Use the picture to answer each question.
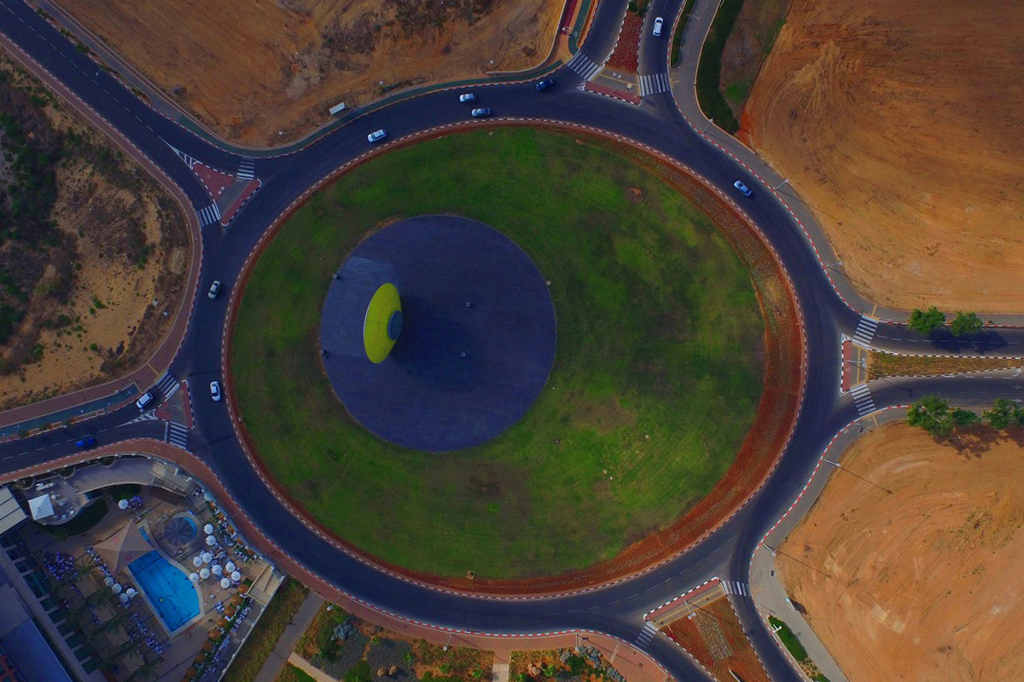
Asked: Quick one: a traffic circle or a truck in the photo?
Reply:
traffic circle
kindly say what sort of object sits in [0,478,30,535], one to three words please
building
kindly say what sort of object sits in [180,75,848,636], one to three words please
roundabout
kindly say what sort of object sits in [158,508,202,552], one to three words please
swimming pool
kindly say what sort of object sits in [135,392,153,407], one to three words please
car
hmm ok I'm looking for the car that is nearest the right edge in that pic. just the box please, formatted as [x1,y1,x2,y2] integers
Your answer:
[735,180,752,196]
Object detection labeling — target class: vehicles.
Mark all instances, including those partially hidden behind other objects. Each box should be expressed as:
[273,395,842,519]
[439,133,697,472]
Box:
[458,92,477,101]
[536,78,554,90]
[75,438,93,448]
[367,129,385,141]
[210,382,220,400]
[472,107,490,116]
[654,17,663,35]
[135,392,153,407]
[208,281,219,298]
[735,180,752,196]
